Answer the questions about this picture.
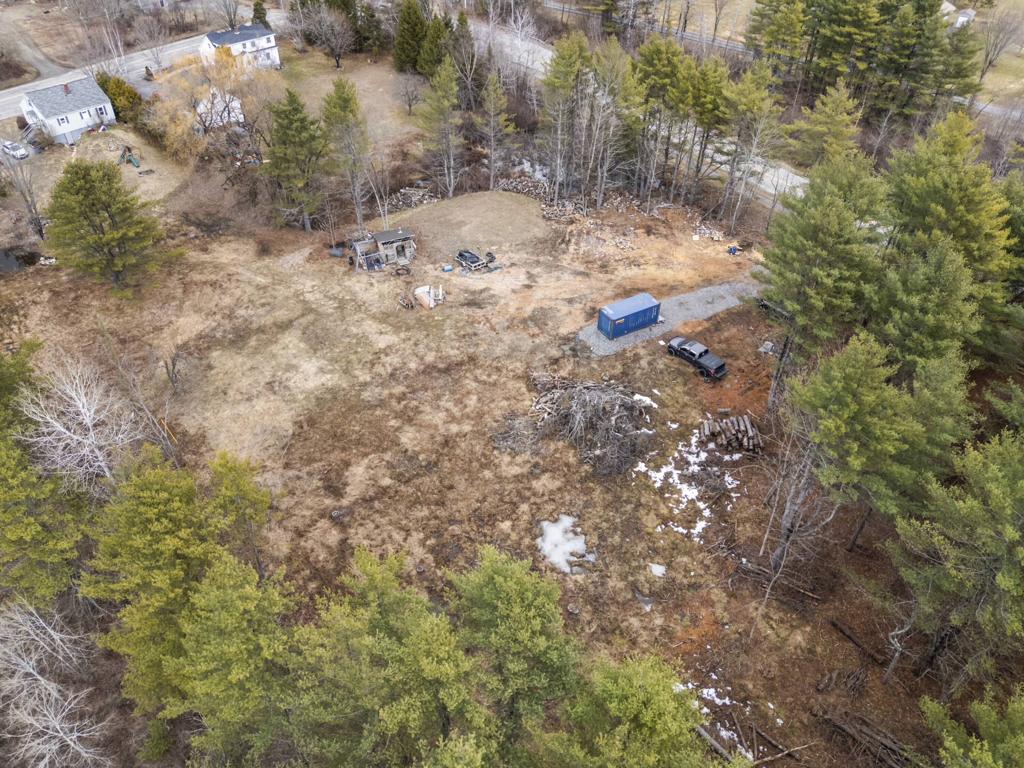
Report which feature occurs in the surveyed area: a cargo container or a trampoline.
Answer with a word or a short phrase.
cargo container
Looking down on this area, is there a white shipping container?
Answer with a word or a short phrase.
No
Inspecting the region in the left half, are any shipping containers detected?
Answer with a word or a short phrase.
No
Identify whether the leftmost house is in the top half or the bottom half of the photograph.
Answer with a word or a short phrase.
top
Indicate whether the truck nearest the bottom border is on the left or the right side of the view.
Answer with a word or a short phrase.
right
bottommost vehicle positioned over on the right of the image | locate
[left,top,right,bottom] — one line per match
[667,335,730,377]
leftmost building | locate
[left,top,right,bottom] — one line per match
[15,74,116,146]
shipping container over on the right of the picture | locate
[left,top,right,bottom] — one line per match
[598,294,661,341]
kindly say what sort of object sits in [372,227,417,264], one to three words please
shed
